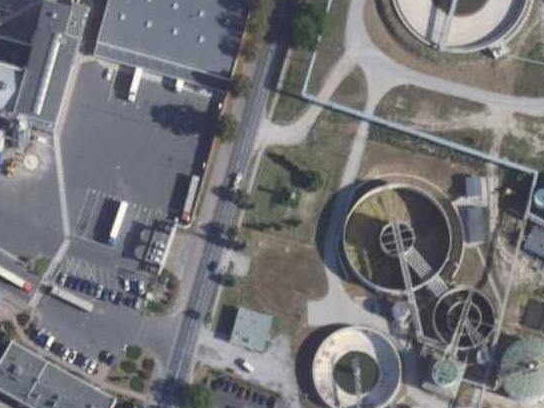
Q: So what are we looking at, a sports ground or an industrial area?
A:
industrial area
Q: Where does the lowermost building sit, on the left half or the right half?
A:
left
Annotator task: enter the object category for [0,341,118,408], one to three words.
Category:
building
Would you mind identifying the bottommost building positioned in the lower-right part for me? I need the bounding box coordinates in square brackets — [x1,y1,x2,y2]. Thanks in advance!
[389,305,411,337]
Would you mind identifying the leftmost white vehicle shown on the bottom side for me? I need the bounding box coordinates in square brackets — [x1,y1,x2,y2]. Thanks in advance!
[0,267,34,292]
